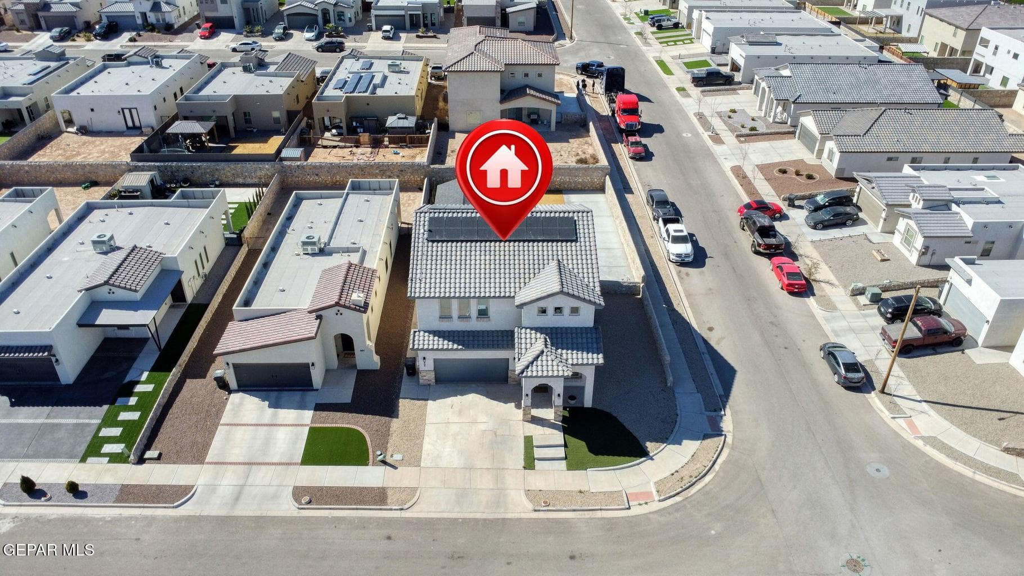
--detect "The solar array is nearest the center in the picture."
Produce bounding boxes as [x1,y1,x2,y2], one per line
[425,218,581,241]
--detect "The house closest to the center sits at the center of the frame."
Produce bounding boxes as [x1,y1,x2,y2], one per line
[407,203,610,406]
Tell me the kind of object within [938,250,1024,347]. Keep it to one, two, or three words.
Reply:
house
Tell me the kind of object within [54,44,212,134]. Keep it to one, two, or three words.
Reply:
house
